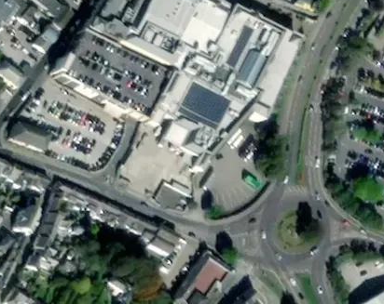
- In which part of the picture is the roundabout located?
bottom right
